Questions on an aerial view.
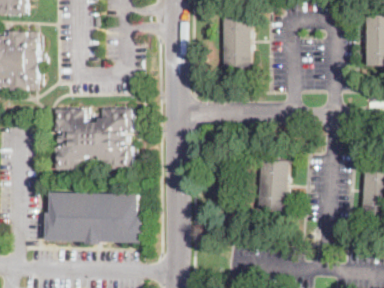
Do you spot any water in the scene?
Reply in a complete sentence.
No, the scene doesn't show any water.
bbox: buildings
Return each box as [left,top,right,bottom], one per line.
[0,30,49,99]
[0,0,31,23]
[44,193,142,246]
[53,106,137,172]
[223,18,257,68]
[360,172,384,214]
[367,15,384,68]
[258,160,293,210]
